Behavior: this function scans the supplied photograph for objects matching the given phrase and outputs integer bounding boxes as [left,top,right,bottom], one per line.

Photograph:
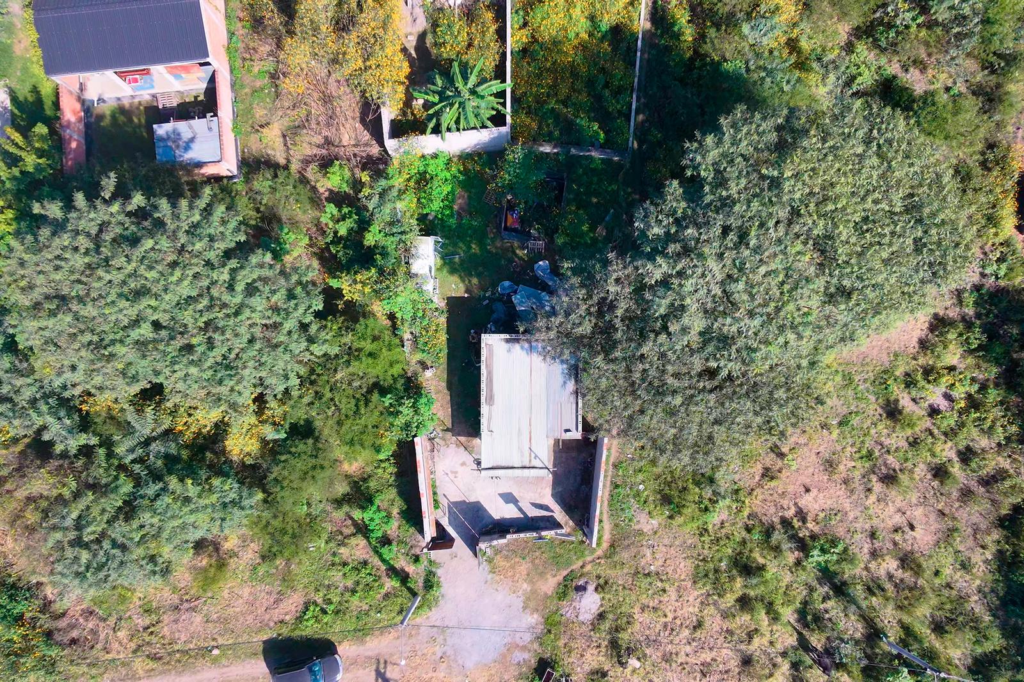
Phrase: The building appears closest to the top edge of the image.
[33,0,232,105]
